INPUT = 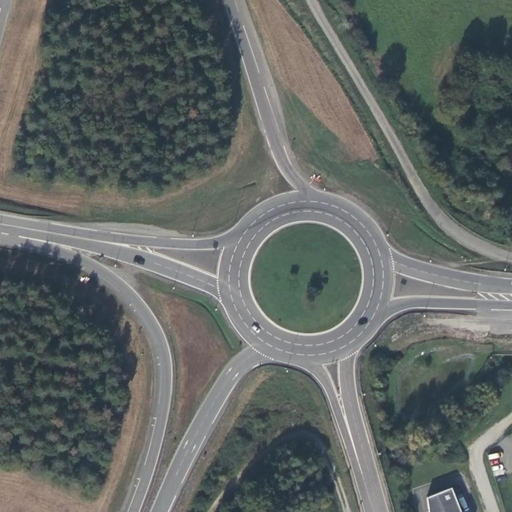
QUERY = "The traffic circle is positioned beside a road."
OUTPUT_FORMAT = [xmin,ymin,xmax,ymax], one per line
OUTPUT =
[218,186,396,368]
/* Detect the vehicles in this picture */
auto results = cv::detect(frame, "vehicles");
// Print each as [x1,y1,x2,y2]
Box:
[494,470,505,476]
[492,465,504,471]
[357,317,368,326]
[496,476,506,481]
[460,497,468,510]
[490,460,500,465]
[488,453,502,460]
[251,324,261,333]
[134,257,144,264]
